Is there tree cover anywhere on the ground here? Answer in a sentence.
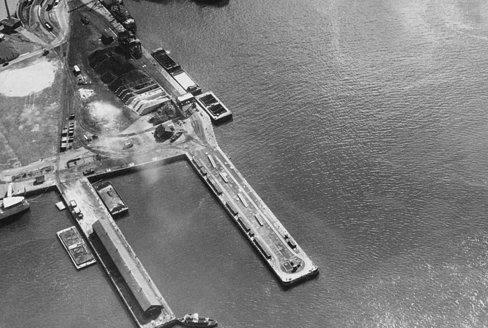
No, there's no tree cover in this view.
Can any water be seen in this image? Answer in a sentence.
Yes, water can be seen from above here.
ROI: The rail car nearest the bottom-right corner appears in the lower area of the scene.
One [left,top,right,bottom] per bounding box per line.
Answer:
[283,231,298,249]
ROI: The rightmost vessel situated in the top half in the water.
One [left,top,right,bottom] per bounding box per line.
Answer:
[195,89,231,123]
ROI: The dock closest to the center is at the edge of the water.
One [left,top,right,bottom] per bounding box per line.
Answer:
[184,150,319,287]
